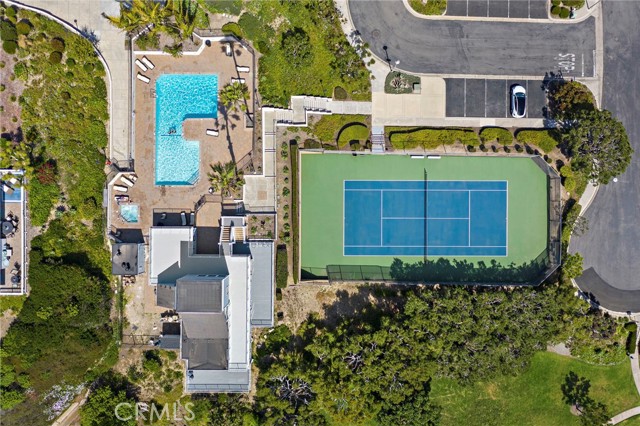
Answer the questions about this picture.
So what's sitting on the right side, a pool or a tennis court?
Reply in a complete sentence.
Looking on the right side, you will find a tennis court.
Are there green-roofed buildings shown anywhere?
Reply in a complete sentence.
No, I can see no green-roofed building in this picture.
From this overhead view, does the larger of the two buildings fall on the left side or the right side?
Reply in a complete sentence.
The larger of the two buildings appears in the left half of the scene.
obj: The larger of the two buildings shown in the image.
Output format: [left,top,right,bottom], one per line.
[149,198,275,391]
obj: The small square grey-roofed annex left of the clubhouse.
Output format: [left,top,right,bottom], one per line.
[113,244,144,275]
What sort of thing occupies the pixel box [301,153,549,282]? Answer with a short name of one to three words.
tennis court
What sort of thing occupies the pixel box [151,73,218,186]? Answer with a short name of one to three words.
swimming pool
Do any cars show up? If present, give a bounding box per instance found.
[509,85,527,117]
